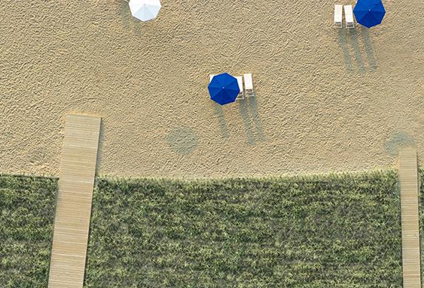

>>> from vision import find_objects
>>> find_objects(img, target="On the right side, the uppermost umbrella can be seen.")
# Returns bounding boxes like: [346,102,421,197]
[353,0,385,28]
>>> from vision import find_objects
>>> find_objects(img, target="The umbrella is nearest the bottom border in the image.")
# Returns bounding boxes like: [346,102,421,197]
[208,73,240,105]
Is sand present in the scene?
Yes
